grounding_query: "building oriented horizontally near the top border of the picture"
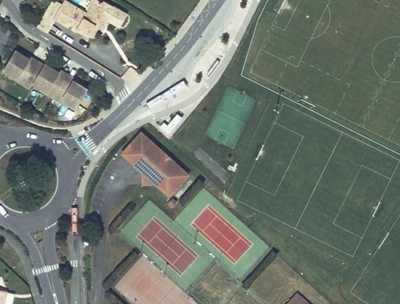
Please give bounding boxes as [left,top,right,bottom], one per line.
[37,0,130,39]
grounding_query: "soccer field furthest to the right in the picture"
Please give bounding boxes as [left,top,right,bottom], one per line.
[351,211,400,304]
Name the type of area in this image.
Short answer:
sports ground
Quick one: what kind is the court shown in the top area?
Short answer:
basketball court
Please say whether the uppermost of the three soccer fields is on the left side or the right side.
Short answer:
right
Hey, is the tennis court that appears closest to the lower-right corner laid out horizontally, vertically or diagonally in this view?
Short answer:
diagonally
